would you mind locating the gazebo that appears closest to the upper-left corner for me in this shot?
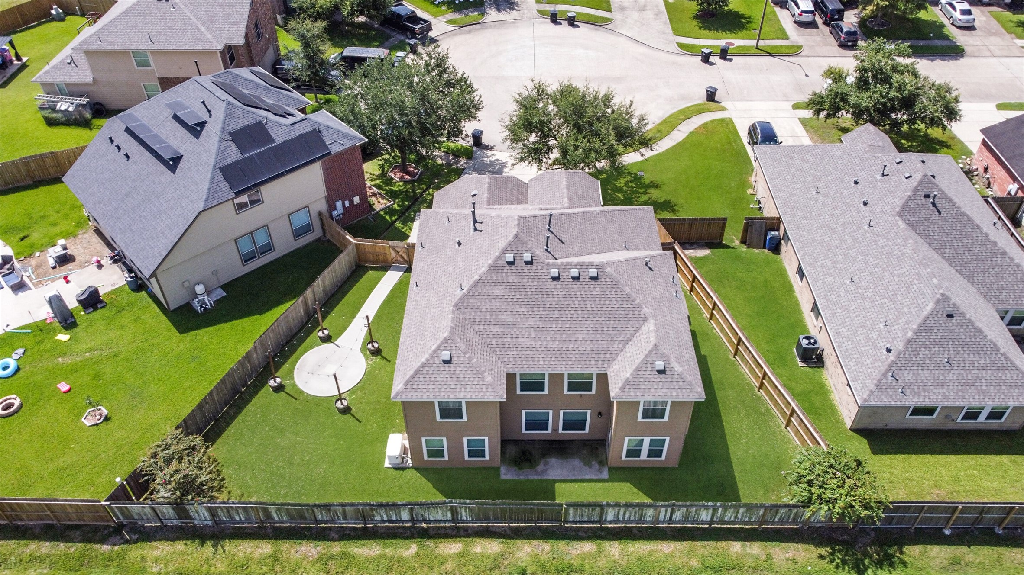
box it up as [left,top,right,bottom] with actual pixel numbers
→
[0,37,29,82]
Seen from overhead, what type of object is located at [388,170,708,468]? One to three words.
house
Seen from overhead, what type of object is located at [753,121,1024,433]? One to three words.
house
